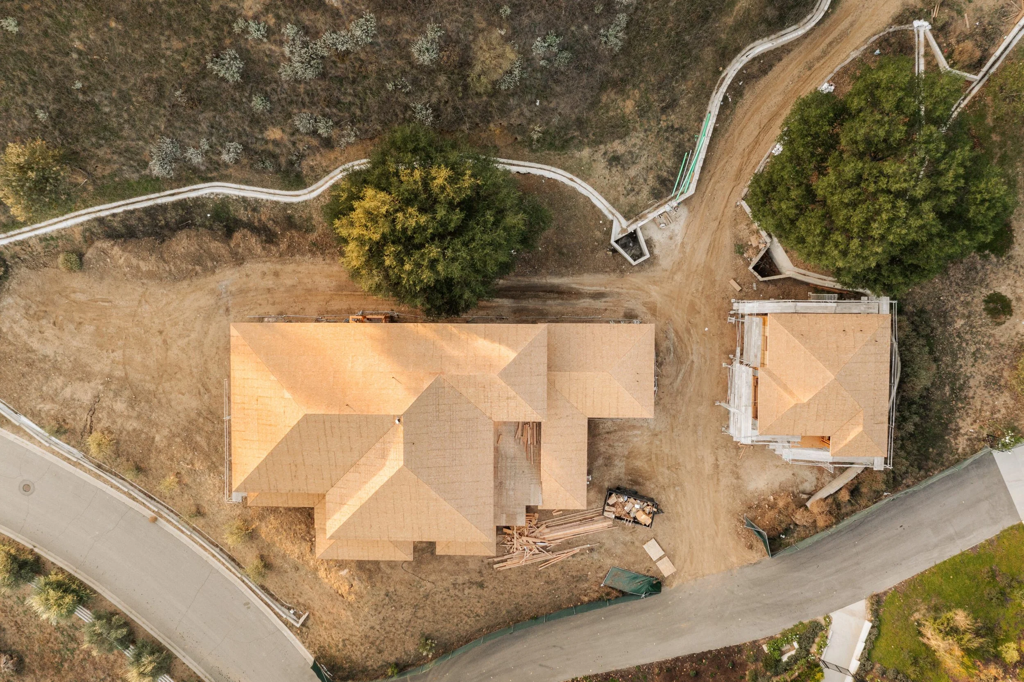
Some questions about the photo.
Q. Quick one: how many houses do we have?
2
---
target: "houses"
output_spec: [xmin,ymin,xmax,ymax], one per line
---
[230,313,655,561]
[739,314,891,457]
